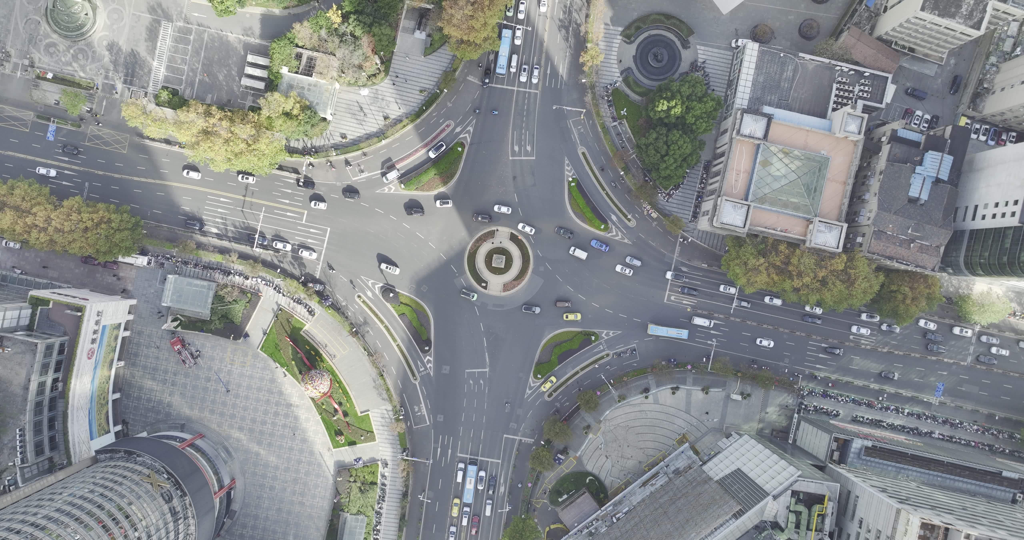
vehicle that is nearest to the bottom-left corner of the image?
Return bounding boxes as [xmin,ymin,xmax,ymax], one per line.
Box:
[171,334,202,368]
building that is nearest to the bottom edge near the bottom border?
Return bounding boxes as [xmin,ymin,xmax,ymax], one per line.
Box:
[338,509,371,540]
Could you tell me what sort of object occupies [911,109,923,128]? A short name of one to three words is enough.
vehicle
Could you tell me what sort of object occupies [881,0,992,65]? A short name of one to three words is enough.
building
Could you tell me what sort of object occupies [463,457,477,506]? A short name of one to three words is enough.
vehicle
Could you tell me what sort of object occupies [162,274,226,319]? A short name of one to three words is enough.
building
